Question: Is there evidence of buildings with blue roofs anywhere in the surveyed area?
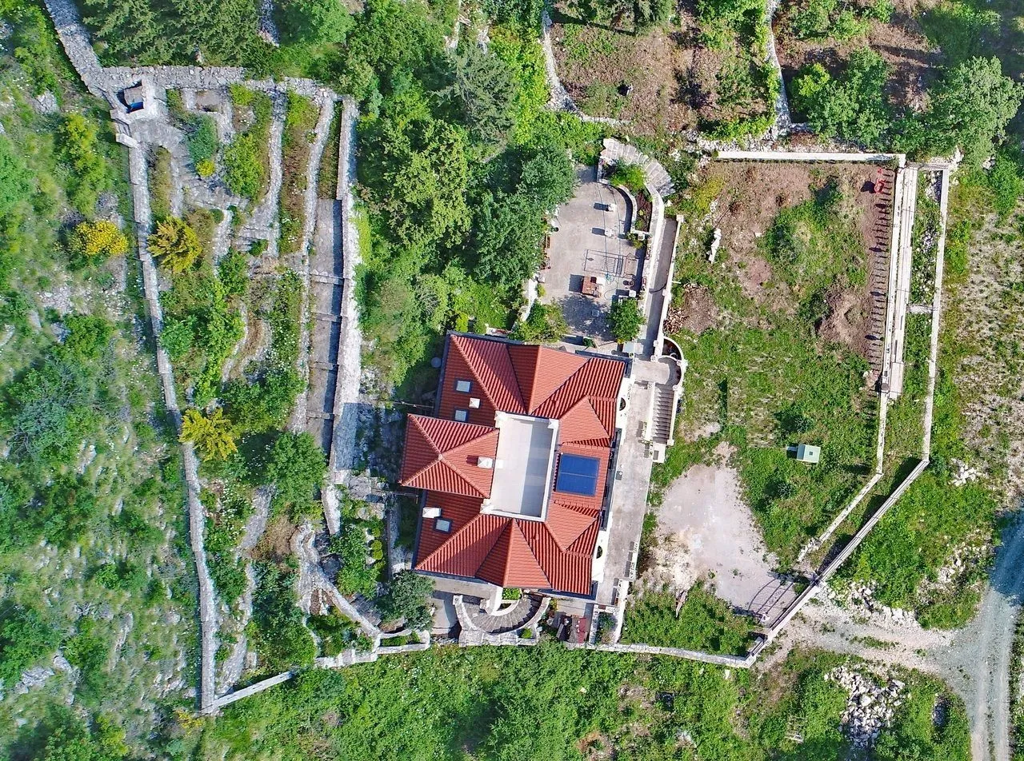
No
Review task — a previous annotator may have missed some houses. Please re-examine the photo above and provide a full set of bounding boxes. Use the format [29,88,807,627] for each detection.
[397,328,638,609]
